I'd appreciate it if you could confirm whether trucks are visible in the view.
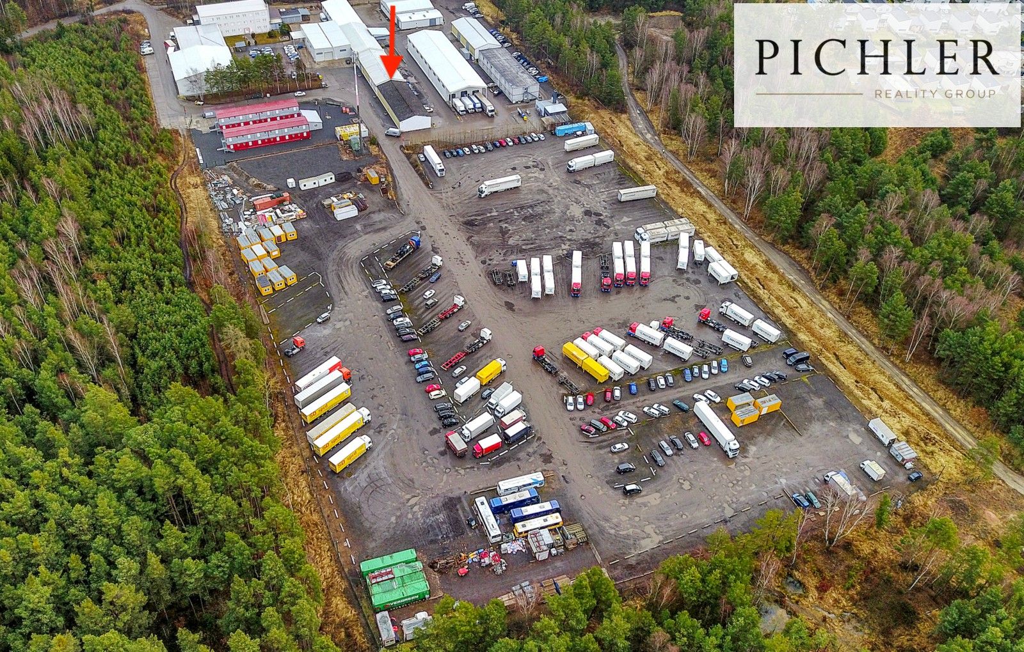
Yes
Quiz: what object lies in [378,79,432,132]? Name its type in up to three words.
building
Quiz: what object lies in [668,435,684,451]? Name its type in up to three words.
car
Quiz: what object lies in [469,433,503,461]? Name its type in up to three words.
truck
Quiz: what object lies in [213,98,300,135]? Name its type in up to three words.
building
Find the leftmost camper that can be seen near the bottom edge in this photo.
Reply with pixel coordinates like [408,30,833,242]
[403,616,432,637]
